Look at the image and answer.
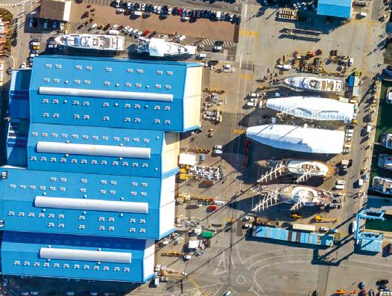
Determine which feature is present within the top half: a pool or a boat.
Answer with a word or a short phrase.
boat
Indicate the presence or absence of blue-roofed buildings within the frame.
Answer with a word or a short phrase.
Yes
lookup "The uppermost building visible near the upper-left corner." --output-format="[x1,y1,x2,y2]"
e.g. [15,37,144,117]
[39,0,78,21]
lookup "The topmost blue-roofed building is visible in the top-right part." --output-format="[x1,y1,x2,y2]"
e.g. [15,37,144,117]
[317,0,356,18]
